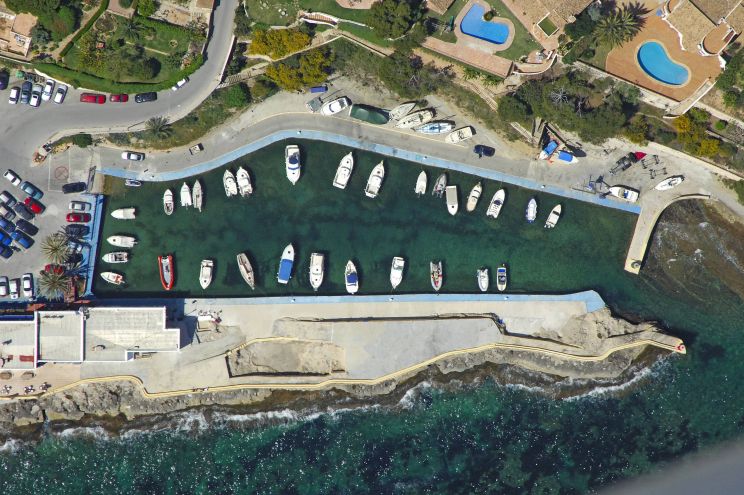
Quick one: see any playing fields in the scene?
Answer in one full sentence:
No, the scene contains no playing field.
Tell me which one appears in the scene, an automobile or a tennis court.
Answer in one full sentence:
There is an automobile in the scene.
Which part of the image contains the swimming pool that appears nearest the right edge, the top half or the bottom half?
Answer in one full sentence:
Seen from above, the swimming pool that appears nearest the right edge lies in the top half of the view.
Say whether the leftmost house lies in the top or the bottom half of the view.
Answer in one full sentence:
It is in the top half that the leftmost house appears.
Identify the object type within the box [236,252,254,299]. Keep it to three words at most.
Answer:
boat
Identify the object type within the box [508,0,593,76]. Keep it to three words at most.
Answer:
house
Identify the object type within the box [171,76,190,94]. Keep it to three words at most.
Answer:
car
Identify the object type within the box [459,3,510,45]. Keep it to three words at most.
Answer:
swimming pool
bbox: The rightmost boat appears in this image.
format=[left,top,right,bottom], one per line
[655,174,684,188]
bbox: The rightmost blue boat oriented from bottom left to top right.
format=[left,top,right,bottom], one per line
[541,138,559,160]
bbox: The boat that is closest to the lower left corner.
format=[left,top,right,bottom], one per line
[90,272,126,285]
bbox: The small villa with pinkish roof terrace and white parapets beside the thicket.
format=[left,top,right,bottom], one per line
[0,12,33,57]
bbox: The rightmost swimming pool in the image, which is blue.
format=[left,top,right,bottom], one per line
[635,40,690,87]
